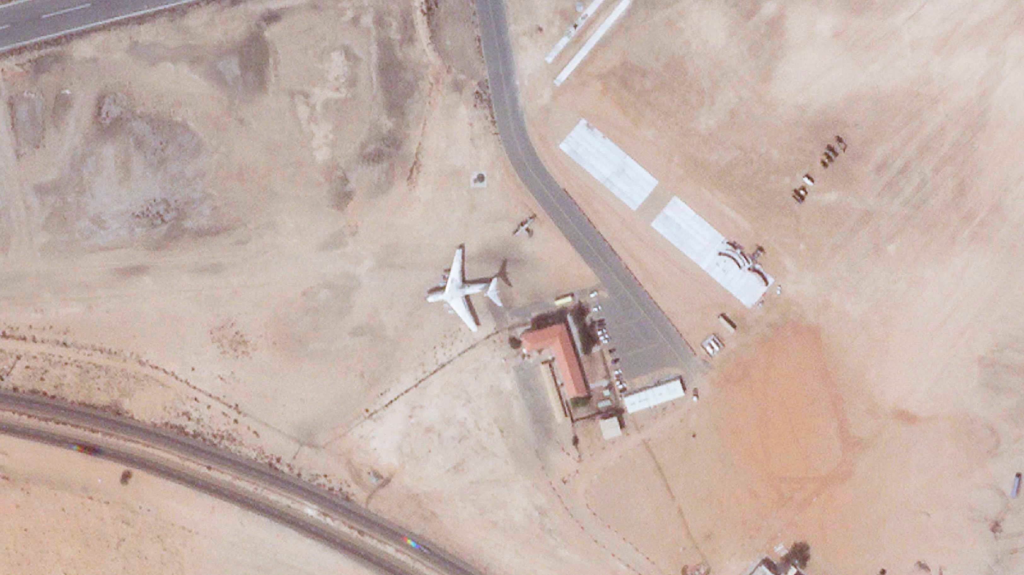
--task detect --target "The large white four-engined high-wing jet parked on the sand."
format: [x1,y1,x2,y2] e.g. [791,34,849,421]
[427,253,501,330]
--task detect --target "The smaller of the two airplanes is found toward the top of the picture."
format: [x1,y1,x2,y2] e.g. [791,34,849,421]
[514,218,534,235]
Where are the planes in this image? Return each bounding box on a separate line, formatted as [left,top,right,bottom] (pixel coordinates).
[427,253,501,330]
[514,218,534,235]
